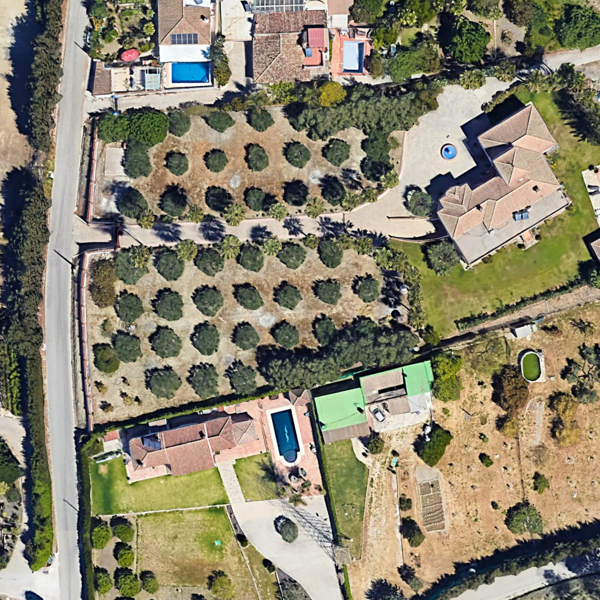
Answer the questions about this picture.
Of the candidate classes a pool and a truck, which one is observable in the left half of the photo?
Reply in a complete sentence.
There is a pool in the left half of the photo.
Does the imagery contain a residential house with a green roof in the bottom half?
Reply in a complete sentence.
Yes, you'll find a residential house with a green roof in the bottom half.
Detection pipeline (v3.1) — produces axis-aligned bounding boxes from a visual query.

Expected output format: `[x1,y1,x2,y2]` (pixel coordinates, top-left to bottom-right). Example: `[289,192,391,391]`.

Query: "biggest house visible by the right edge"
[437,104,572,269]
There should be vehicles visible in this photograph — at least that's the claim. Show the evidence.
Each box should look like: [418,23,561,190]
[85,26,93,49]
[367,404,386,425]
